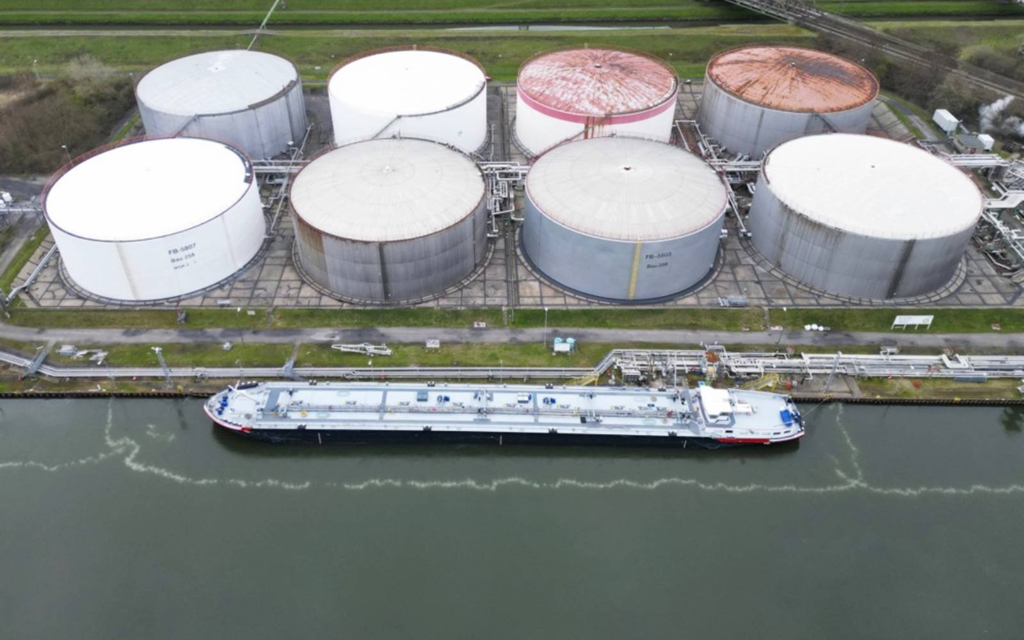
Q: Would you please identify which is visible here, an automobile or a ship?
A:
ship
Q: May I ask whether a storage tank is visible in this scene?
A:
Yes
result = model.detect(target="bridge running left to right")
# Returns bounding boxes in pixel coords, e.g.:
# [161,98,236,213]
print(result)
[725,0,812,26]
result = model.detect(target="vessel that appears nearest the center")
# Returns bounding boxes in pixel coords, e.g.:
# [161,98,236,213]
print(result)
[203,351,803,453]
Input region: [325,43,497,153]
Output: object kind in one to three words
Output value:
storage tank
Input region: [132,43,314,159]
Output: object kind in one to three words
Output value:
storage tank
